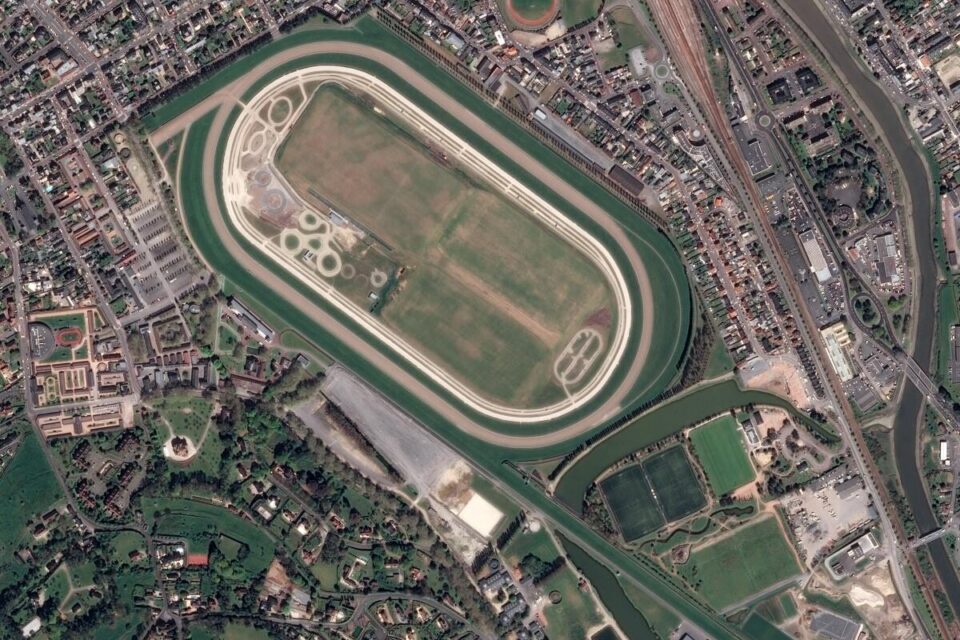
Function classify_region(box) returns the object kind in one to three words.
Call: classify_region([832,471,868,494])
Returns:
building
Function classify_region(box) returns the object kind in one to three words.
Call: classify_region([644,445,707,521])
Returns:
soccer field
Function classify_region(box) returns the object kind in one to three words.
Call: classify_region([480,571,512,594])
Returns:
house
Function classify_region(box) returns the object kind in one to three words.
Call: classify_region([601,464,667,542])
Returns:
soccer field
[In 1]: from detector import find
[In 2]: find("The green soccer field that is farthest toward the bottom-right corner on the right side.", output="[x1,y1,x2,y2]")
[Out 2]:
[688,415,759,495]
